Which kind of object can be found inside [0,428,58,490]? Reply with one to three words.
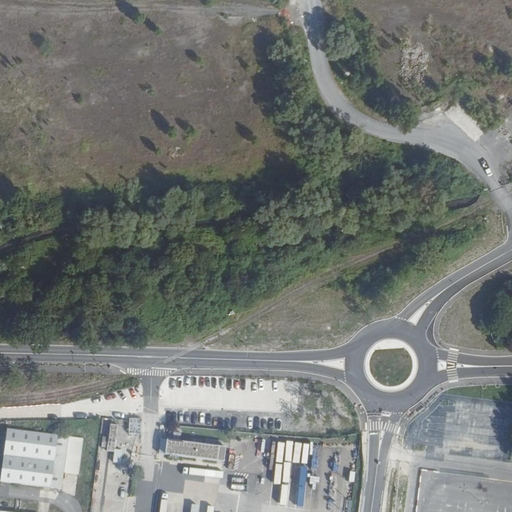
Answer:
building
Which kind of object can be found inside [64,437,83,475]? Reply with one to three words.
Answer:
shed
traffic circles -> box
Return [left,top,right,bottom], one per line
[337,292,459,418]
